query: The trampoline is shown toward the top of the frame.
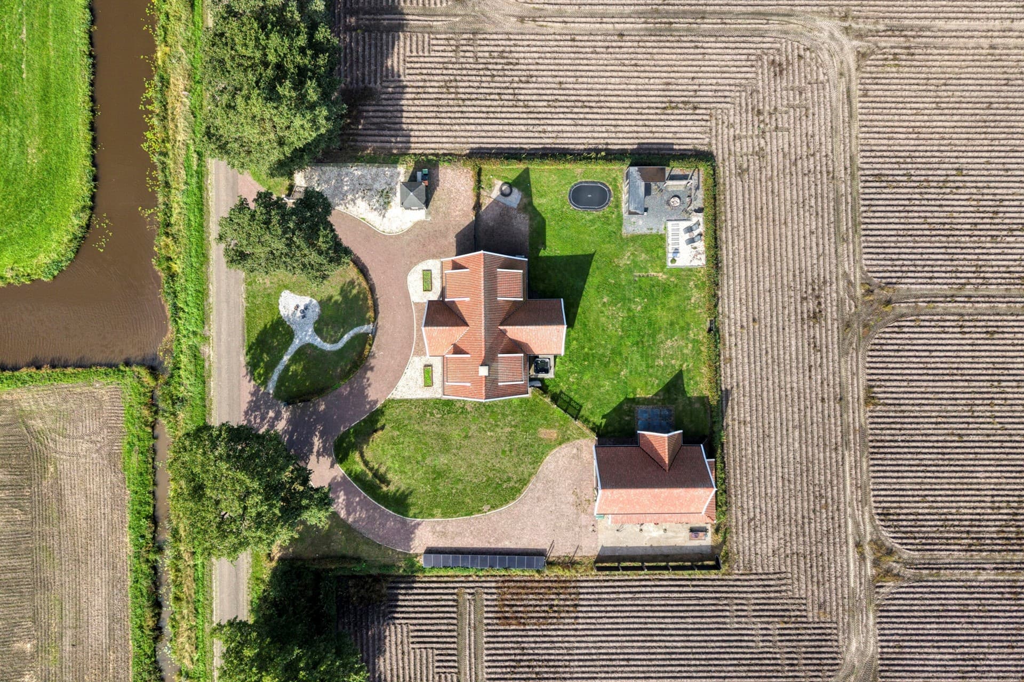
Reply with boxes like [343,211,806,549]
[568,180,613,211]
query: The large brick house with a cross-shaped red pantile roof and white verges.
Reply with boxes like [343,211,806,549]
[421,251,567,401]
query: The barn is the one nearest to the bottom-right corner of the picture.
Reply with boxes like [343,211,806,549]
[592,429,717,526]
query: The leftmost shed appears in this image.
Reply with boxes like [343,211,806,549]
[400,182,427,211]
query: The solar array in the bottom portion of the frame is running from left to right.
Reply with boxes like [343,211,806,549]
[423,555,545,570]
